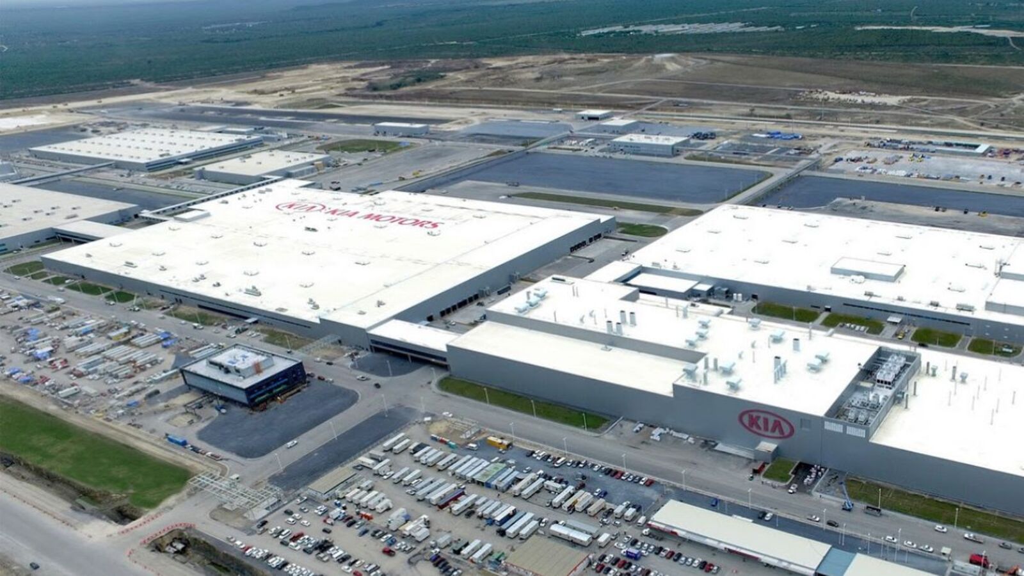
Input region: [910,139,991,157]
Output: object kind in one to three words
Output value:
shed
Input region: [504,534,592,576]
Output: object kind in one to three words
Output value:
building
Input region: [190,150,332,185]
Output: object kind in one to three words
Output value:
building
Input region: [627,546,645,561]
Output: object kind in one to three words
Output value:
vehicle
